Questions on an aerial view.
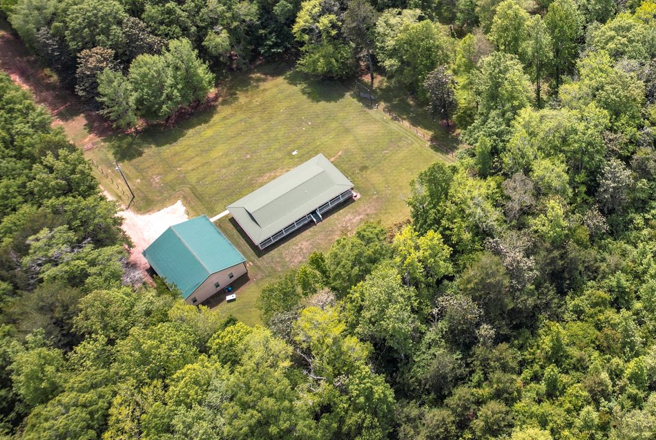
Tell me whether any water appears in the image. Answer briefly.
No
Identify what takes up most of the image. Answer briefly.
trees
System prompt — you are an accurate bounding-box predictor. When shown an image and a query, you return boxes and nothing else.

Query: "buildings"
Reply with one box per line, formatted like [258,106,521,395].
[226,153,354,252]
[144,215,252,310]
